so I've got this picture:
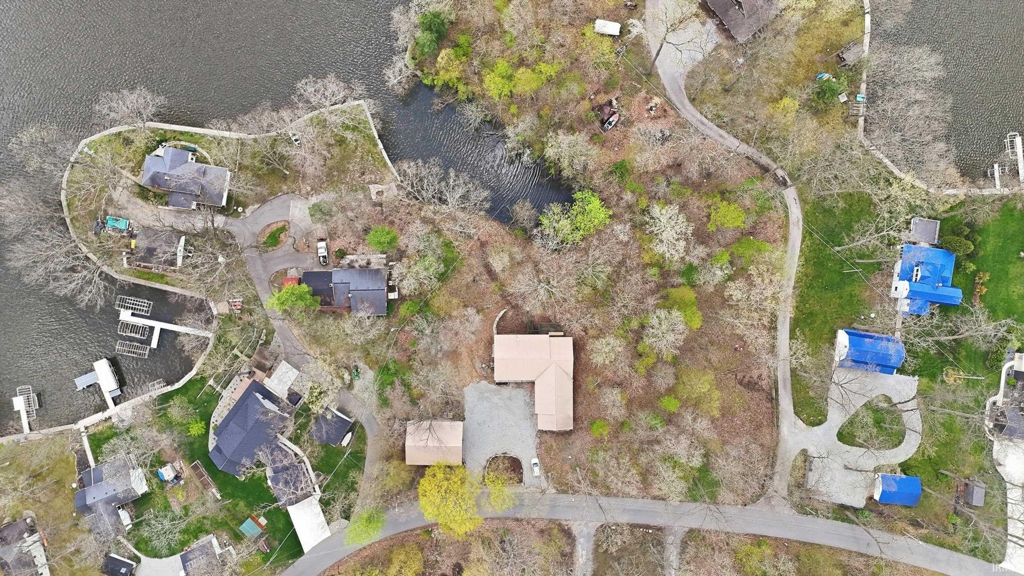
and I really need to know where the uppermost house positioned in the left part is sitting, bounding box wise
[141,145,234,210]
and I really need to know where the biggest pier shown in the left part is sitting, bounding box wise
[119,310,211,348]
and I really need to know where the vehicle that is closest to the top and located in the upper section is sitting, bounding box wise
[590,22,621,39]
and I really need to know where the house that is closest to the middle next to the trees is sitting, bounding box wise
[491,322,574,431]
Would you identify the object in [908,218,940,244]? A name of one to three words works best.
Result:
shed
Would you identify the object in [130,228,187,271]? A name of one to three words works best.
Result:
house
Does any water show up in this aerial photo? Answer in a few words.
Yes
